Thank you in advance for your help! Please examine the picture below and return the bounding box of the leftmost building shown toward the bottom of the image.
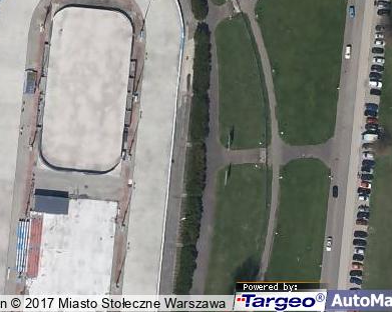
[33,196,69,216]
